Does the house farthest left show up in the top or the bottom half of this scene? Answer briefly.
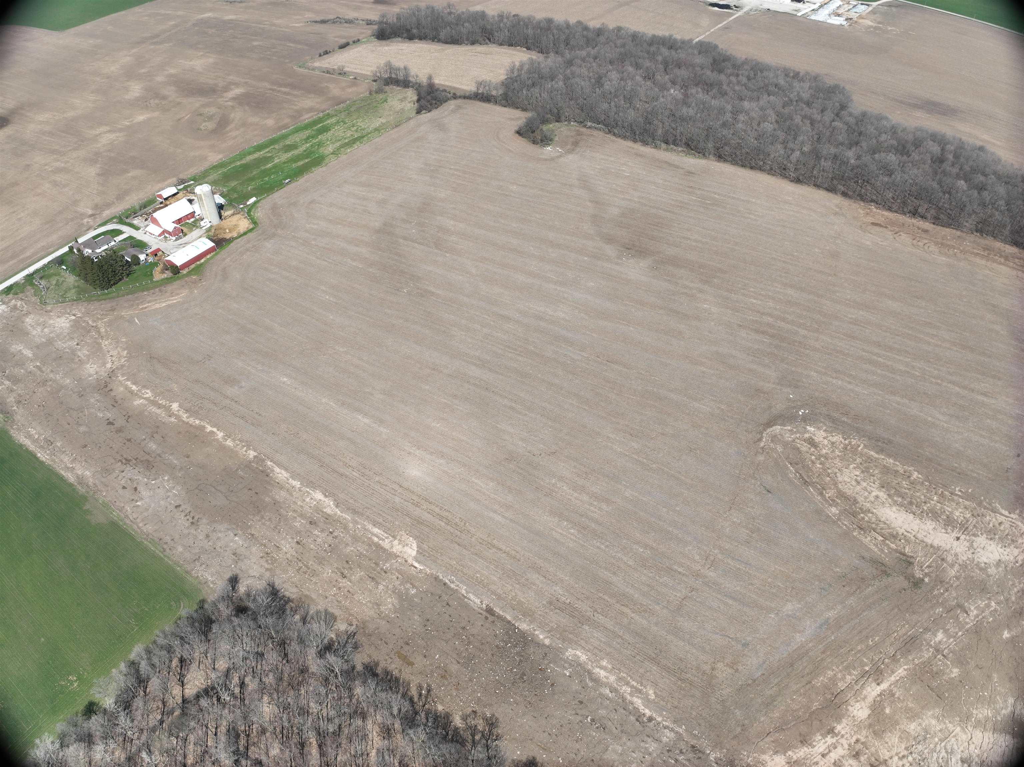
top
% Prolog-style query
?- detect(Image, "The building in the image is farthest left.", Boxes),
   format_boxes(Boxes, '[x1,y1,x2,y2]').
[61,234,116,265]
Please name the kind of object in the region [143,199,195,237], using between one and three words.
barn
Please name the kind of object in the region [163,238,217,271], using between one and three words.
shed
